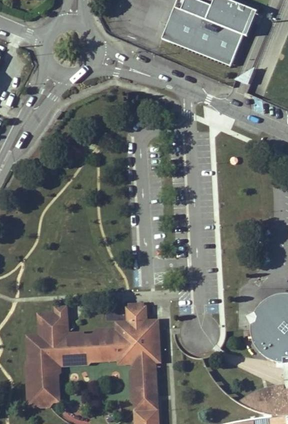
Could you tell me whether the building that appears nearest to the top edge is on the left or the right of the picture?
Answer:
right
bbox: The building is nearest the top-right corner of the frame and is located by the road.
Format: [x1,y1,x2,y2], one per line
[162,0,257,68]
